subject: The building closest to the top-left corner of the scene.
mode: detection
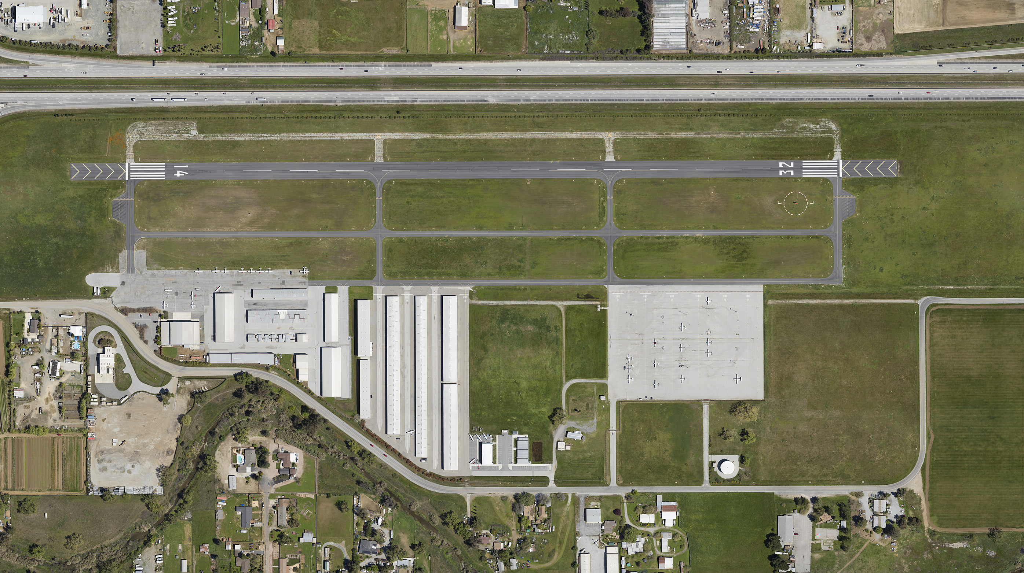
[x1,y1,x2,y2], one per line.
[15,5,46,22]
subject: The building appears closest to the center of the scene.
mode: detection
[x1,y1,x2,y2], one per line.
[443,296,457,382]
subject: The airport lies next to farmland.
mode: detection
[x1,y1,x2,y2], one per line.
[70,118,897,476]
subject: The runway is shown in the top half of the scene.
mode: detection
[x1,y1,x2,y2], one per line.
[70,159,897,180]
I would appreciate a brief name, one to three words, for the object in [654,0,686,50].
greenhouse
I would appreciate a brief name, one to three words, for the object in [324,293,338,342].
hangar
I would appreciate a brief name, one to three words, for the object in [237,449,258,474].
house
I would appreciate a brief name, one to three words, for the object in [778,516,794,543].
building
